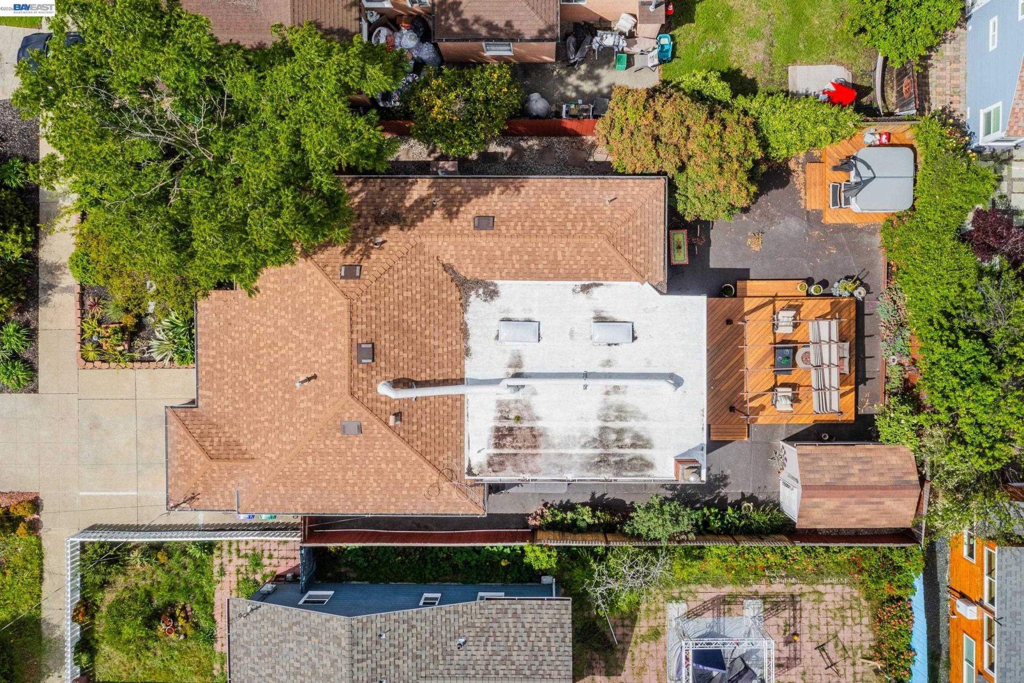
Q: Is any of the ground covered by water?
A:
No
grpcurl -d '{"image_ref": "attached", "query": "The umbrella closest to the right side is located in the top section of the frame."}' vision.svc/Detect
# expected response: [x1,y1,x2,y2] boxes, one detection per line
[835,157,870,201]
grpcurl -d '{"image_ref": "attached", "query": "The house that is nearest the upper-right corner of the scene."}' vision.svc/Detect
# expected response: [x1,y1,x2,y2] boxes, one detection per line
[965,0,1024,147]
